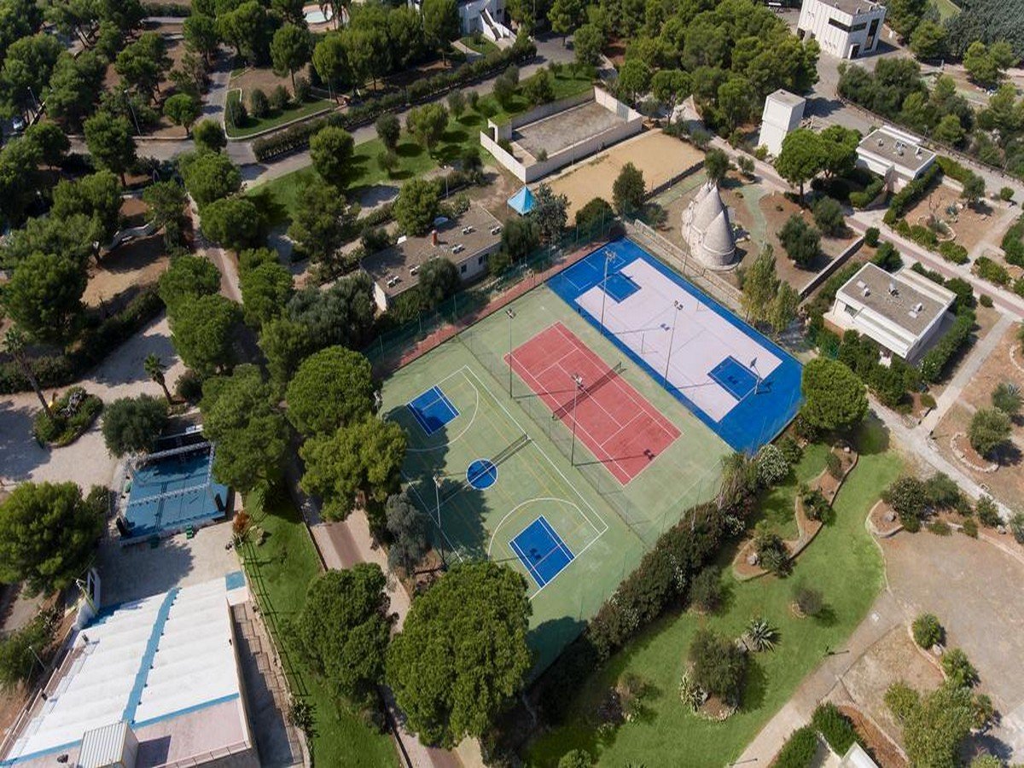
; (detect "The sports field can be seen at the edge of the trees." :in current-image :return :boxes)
[537,131,703,225]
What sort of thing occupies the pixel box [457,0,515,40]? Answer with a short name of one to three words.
house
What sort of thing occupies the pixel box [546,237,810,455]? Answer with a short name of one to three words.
basketball court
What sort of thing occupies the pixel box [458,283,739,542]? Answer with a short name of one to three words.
tennis court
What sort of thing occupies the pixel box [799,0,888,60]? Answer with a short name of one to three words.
building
